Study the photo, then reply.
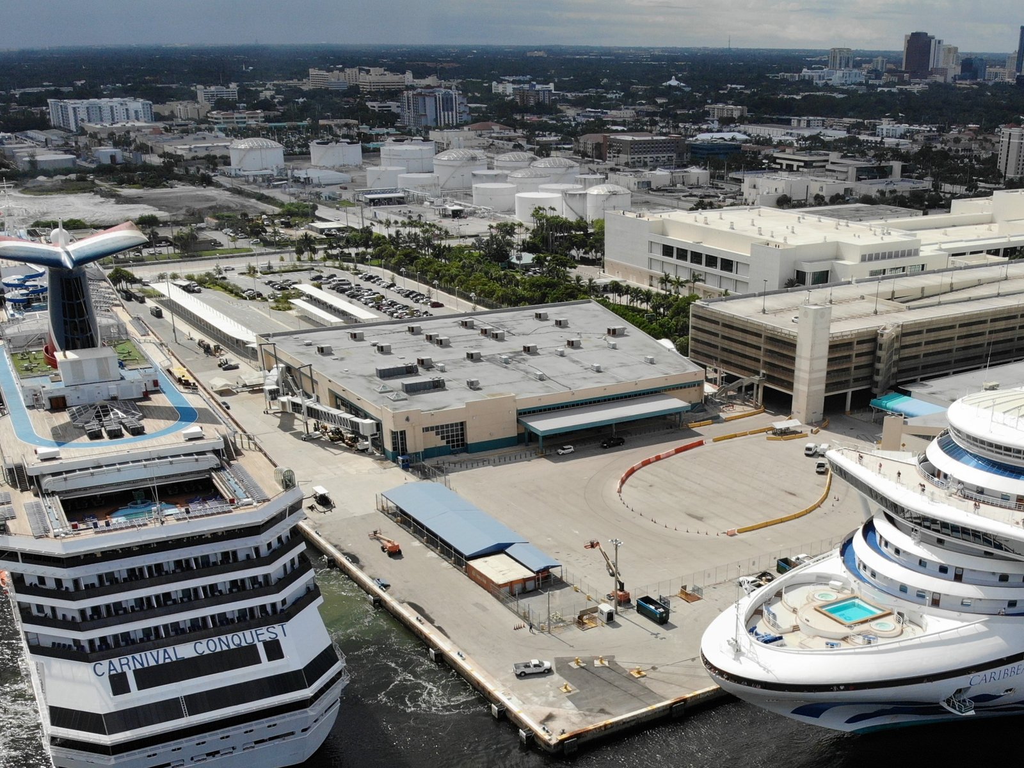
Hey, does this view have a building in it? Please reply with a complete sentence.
Yes, a building appears in the view.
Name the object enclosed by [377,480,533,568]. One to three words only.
shed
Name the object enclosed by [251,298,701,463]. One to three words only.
building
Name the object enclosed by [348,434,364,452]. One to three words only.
work vehicle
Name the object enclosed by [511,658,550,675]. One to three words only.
vehicle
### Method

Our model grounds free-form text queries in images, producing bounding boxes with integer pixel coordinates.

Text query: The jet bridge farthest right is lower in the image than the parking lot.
[273,363,375,453]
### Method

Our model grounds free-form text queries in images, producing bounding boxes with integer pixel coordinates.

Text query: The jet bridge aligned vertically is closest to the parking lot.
[256,341,288,413]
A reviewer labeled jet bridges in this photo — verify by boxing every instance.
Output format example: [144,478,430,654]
[273,363,375,453]
[256,341,288,413]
